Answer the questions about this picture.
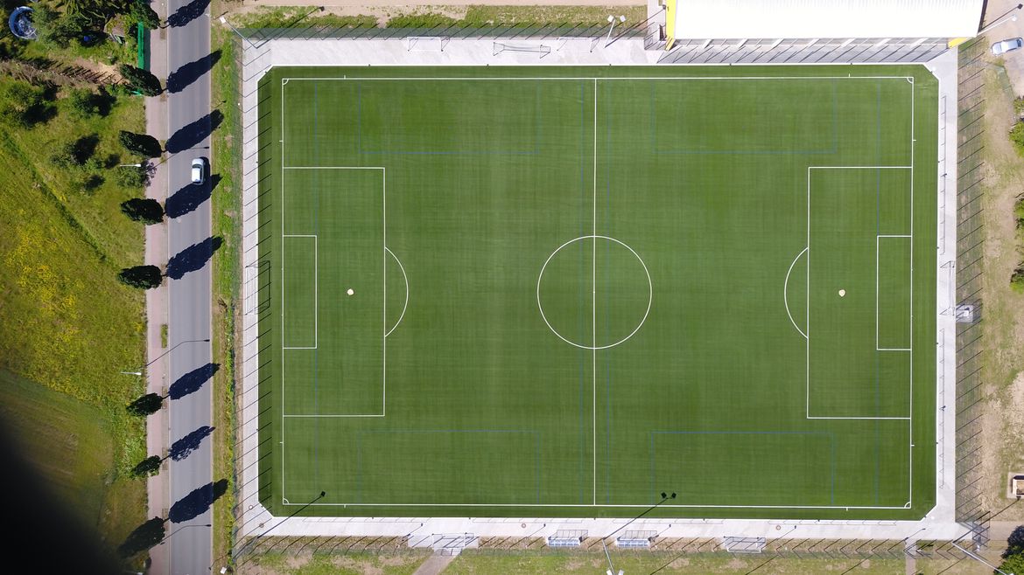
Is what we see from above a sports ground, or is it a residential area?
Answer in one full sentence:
This image shows a sports ground.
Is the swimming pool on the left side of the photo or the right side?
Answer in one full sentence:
You can find the swimming pool on the left side of the picture.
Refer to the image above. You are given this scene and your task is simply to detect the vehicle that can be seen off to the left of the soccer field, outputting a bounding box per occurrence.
[190,158,204,185]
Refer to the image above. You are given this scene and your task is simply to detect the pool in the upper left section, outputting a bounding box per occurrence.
[10,9,39,39]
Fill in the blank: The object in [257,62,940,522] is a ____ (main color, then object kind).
green soccer field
